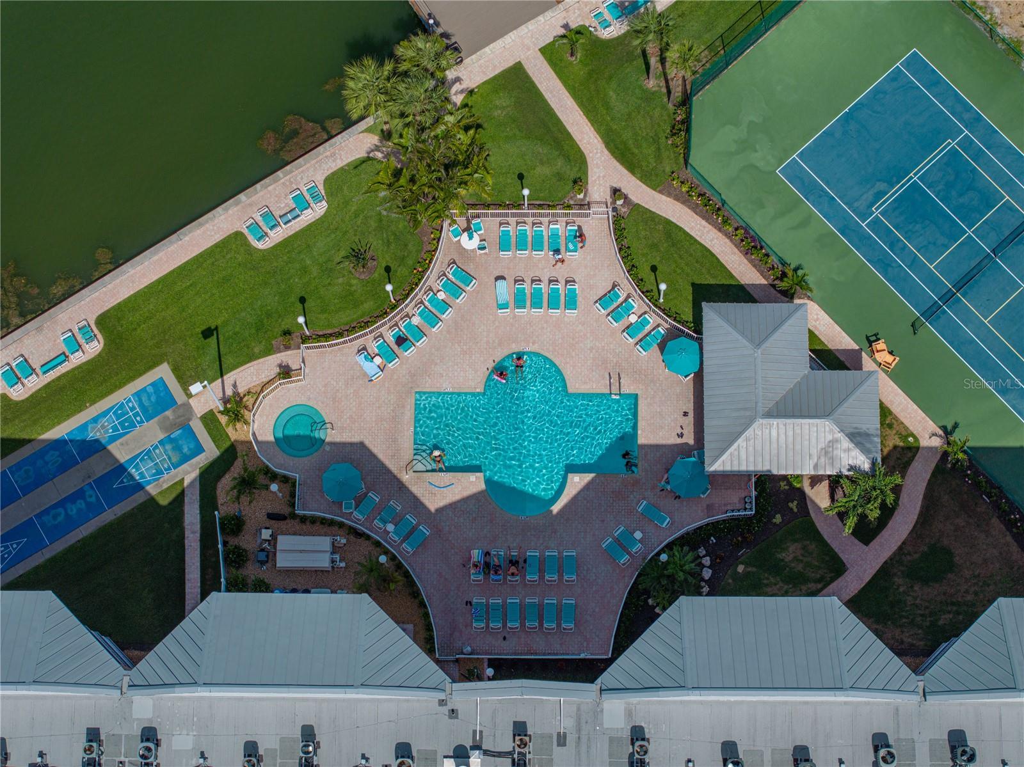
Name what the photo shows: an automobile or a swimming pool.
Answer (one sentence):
Looking from above, you can make out a swimming pool.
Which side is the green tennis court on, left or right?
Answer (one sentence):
The green tennis court is on the right side of the image.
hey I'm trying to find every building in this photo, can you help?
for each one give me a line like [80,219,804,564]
[0,591,1024,767]
[701,301,882,477]
[277,536,332,571]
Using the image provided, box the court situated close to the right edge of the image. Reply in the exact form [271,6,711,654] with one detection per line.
[688,0,1024,510]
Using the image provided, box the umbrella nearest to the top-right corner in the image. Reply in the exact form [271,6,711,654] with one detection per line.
[662,340,699,376]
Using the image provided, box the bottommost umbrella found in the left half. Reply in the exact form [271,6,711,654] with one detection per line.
[323,463,363,503]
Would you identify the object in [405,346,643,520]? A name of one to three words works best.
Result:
swimming pool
